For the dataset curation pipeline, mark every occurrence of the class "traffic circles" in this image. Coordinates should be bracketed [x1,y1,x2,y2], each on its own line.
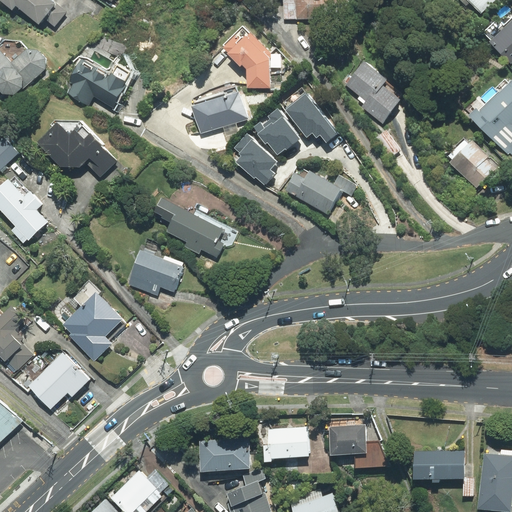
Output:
[190,352,237,400]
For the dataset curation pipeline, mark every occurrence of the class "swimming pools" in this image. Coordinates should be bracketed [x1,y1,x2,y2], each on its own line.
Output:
[90,50,113,70]
[497,6,512,18]
[480,86,498,104]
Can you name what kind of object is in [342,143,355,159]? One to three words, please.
vehicle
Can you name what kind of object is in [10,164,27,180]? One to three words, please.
vehicle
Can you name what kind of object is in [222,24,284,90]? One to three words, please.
house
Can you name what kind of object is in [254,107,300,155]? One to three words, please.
house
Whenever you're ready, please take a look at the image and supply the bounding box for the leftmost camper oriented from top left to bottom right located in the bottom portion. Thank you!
[34,316,51,334]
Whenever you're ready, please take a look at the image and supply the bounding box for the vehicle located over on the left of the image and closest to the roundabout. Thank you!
[182,354,196,370]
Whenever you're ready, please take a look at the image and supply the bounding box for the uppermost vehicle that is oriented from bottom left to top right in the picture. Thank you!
[214,51,228,66]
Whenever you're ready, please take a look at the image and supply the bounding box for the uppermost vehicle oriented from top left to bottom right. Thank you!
[296,35,310,51]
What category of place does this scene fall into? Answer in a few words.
residential area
